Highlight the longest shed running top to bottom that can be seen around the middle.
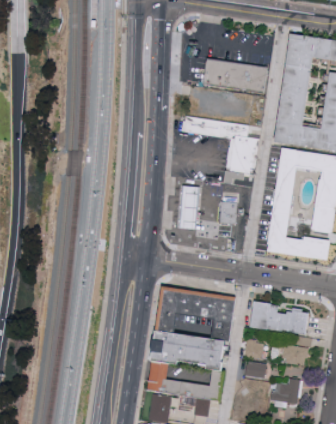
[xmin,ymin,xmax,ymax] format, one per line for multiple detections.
[178,186,200,230]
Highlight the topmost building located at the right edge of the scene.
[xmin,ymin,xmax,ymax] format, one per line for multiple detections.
[274,34,336,153]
